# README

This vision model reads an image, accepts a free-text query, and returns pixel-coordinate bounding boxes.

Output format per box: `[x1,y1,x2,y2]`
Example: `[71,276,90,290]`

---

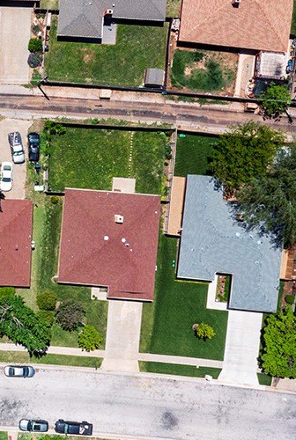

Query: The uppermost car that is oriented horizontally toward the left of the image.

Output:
[4,364,34,378]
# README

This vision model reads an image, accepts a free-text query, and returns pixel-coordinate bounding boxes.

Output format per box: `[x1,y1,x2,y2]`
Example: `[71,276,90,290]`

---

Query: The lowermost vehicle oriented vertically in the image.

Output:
[0,161,13,191]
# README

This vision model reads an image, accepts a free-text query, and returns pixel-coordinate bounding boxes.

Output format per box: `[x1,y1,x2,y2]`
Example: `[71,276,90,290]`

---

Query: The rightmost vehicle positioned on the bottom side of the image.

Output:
[54,419,94,436]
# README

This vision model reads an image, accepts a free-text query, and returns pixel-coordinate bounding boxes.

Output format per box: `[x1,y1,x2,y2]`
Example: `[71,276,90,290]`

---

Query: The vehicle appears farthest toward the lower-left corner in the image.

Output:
[19,418,48,433]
